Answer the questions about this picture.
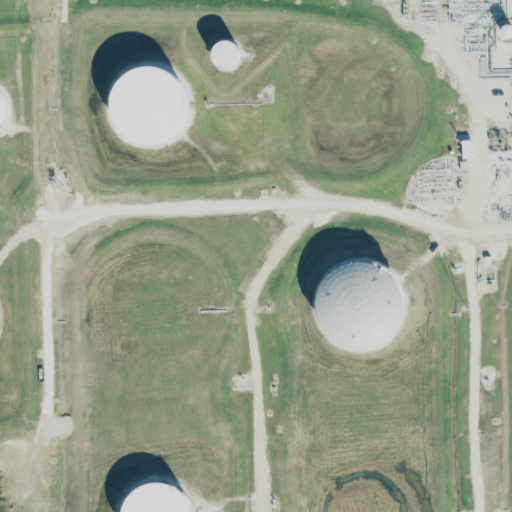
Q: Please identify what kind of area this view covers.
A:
industrial area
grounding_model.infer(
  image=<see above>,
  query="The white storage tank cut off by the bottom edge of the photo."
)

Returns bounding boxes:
[119,477,193,512]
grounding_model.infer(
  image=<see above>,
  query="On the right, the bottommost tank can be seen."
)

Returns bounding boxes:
[316,256,406,350]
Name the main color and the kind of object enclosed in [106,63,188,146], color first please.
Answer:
white storage tank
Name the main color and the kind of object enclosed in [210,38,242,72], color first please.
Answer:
white storage tank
